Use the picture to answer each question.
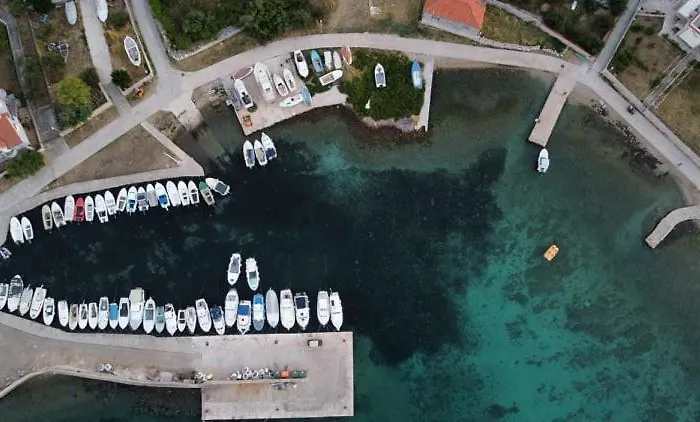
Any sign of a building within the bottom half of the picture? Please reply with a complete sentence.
No, no building can be made out within the bottom half of the picture.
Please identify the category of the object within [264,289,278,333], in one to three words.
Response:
boat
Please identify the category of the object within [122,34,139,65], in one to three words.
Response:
boat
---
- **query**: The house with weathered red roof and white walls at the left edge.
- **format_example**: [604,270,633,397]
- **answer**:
[0,106,36,170]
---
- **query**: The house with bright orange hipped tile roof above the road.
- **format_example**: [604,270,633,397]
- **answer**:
[420,0,488,38]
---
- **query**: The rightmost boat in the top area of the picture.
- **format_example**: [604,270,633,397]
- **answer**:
[537,148,549,172]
